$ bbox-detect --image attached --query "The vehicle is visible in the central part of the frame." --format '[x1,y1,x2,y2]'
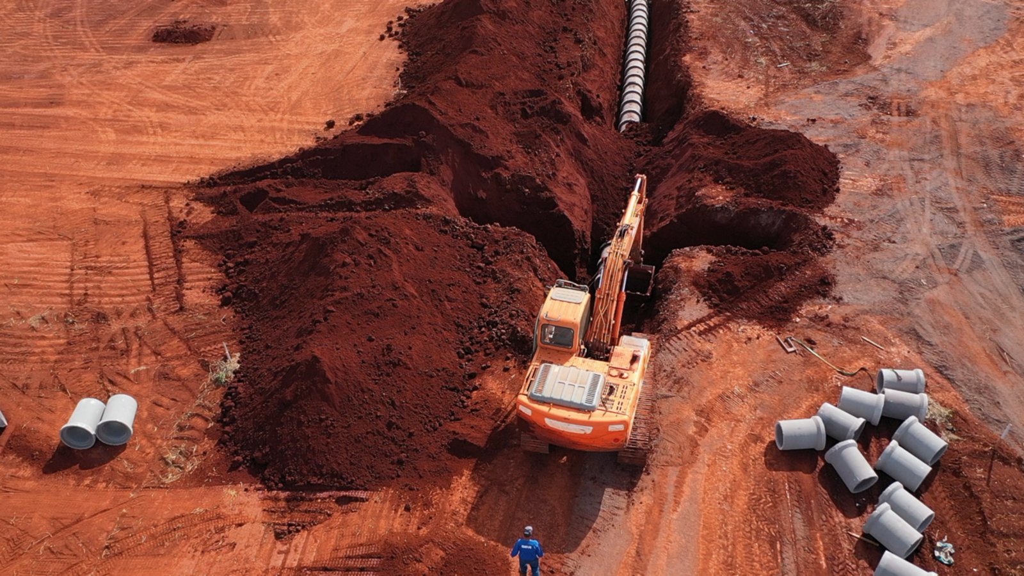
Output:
[516,169,660,466]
